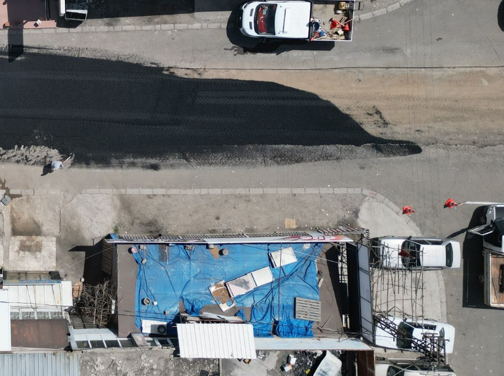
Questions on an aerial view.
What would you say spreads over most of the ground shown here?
paved ground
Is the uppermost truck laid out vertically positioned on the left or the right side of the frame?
right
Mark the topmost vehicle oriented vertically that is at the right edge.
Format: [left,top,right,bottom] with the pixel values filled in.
[457,202,504,309]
